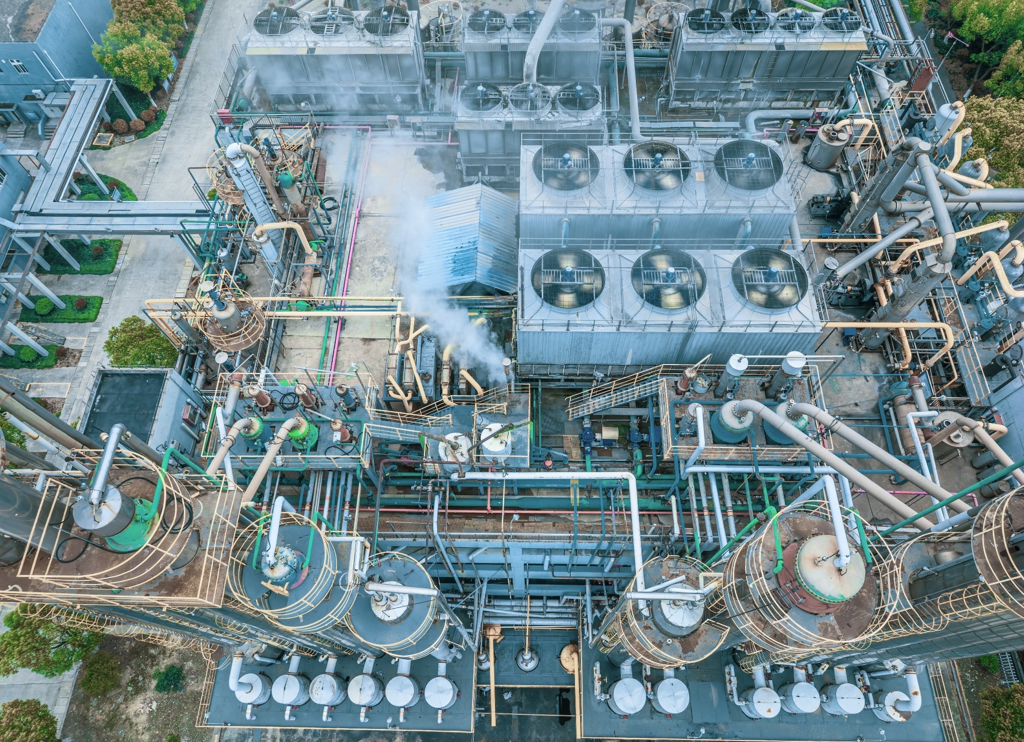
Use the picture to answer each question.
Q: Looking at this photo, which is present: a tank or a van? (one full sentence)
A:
The one in the frame is a tank.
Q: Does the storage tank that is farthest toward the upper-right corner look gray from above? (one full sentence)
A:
Yes, gray is the color of the storage tank that is farthest toward the upper-right corner.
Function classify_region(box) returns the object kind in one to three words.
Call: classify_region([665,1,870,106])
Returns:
cooling tower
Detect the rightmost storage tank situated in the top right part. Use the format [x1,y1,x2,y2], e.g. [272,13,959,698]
[812,123,862,177]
